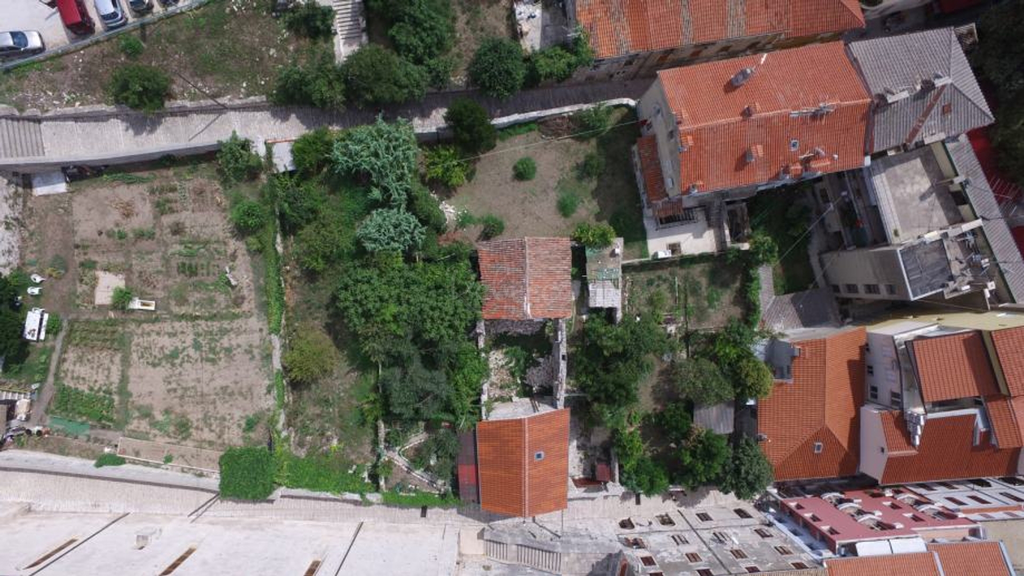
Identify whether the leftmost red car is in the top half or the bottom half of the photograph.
top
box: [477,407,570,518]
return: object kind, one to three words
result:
house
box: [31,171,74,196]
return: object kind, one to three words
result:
shed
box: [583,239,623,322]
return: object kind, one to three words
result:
shed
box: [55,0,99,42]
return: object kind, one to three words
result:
car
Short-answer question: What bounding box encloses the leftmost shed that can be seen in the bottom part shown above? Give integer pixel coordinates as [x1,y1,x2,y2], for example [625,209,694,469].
[0,388,44,434]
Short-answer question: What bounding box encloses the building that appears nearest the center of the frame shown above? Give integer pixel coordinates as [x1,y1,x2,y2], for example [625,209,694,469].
[477,238,572,321]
